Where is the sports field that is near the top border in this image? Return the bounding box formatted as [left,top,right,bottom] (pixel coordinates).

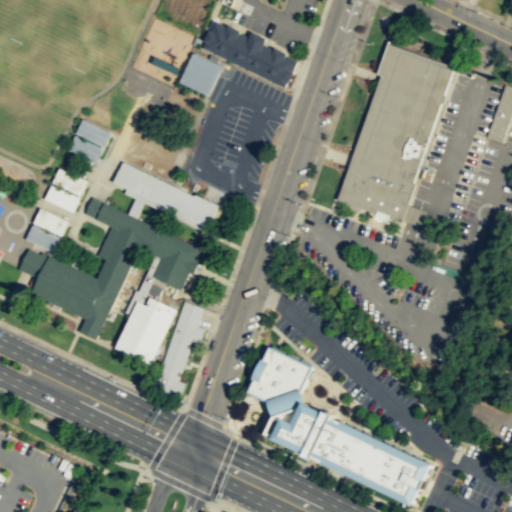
[0,0,154,165]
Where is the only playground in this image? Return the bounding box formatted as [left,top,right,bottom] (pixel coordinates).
[133,19,194,88]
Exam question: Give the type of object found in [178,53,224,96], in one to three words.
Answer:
building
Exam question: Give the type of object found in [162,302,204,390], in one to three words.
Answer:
building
